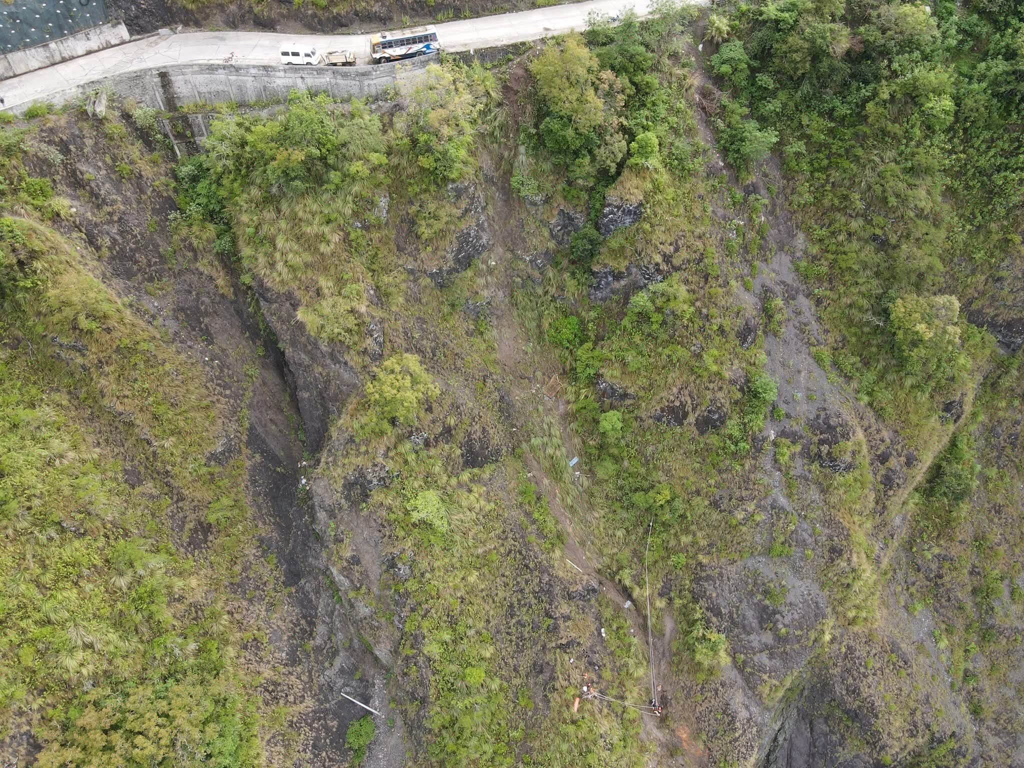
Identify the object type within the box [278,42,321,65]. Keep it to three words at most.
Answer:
vehicle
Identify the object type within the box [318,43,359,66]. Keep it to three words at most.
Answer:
truck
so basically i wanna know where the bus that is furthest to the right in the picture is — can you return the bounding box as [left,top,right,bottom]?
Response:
[365,20,441,64]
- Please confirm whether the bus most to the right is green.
No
